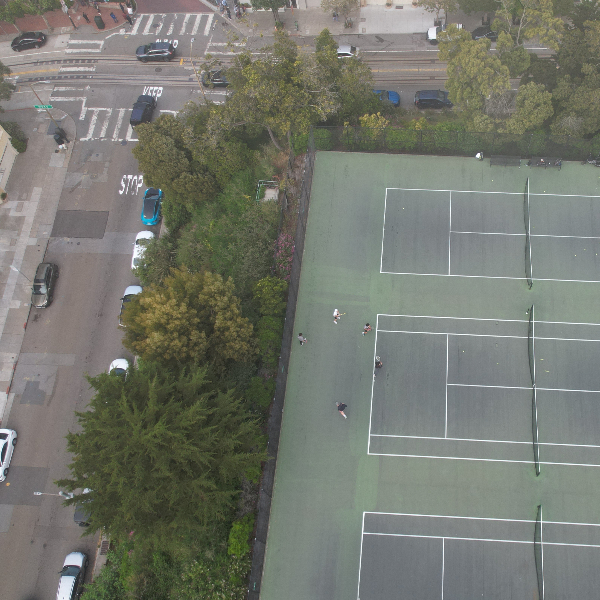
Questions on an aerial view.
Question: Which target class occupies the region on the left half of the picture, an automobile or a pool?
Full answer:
The one visible on the left half of the picture is an automobile.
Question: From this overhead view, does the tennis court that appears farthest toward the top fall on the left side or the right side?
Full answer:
You can find the tennis court that appears farthest toward the top on the right side of the picture.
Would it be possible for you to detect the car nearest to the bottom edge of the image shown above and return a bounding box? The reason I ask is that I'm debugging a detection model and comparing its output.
[55,556,89,600]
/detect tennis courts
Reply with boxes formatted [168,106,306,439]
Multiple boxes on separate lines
[368,314,600,466]
[380,187,600,282]
[357,512,600,600]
